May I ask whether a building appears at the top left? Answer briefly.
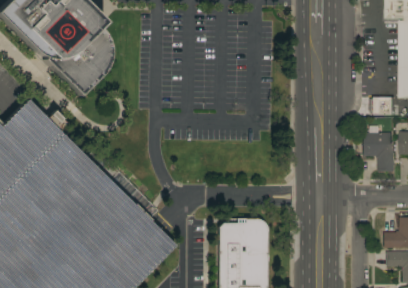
Yes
